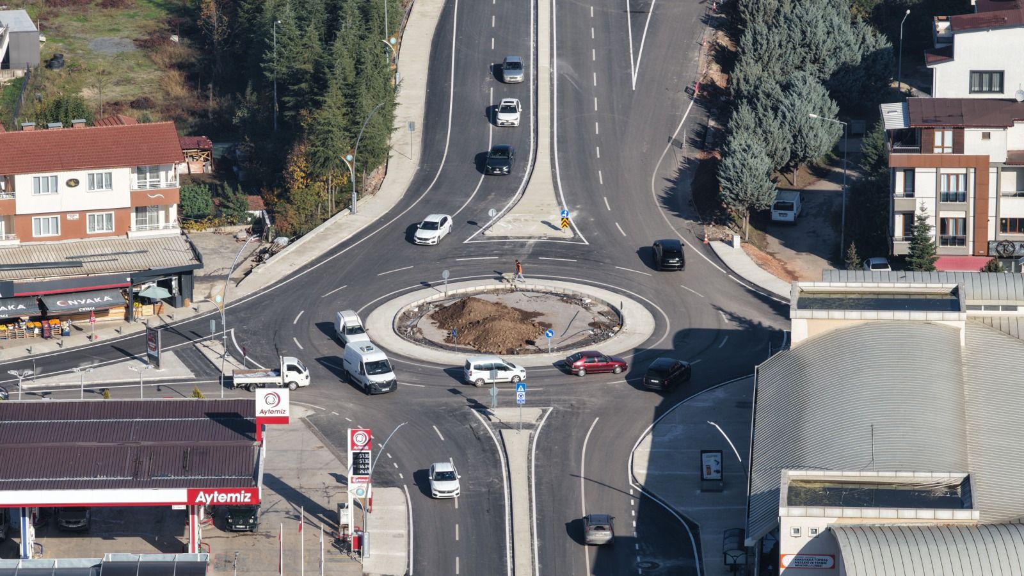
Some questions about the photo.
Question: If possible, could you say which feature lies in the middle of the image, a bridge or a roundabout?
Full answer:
Visible in the middle of the image is a roundabout.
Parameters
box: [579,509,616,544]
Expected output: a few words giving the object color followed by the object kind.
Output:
gray car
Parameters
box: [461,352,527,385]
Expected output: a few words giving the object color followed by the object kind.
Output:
white van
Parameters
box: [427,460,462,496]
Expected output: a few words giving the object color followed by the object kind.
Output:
white car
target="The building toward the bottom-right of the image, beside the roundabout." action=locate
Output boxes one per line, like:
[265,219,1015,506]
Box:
[744,269,1024,576]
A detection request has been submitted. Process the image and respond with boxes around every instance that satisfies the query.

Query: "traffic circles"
[367,276,655,367]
